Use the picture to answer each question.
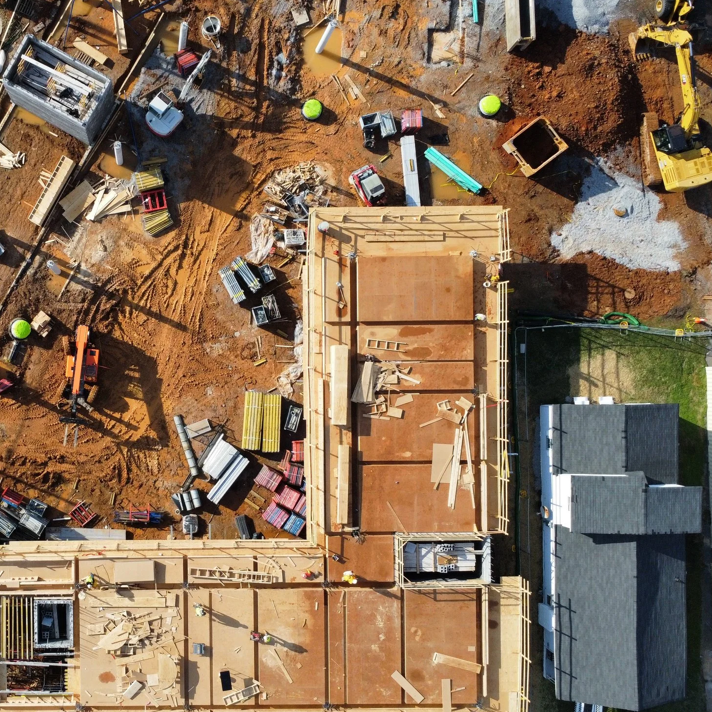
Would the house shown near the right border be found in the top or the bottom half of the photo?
bottom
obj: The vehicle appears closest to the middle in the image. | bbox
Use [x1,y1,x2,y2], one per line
[346,165,389,206]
